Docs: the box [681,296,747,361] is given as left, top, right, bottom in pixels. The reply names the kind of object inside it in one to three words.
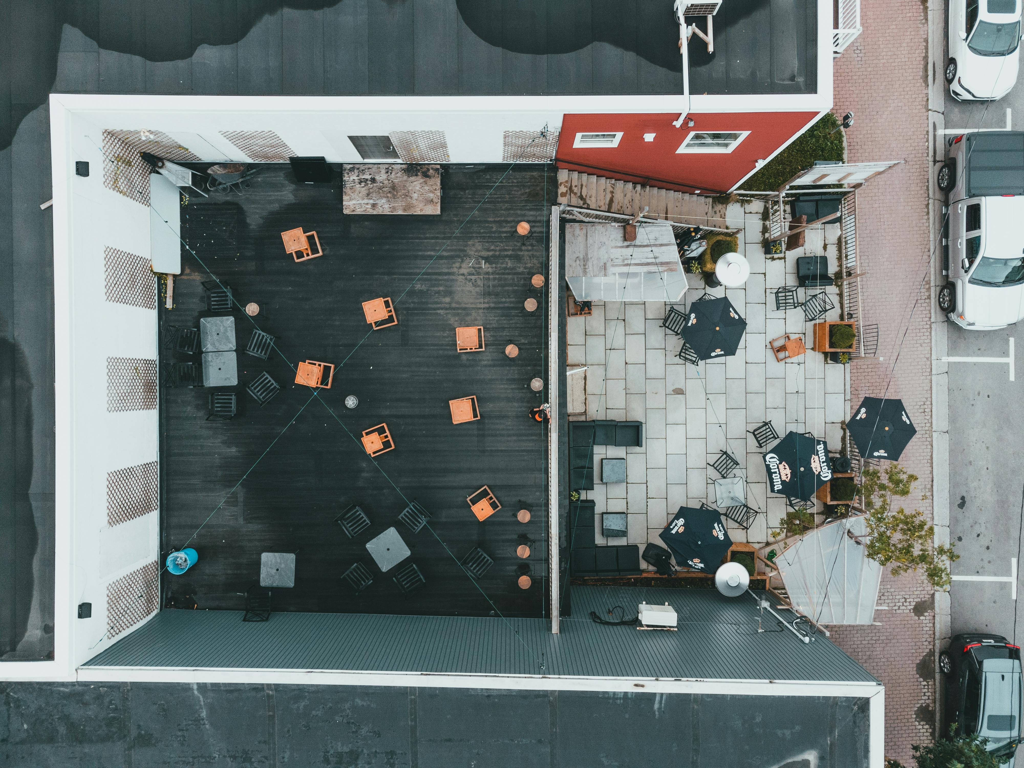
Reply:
umbrella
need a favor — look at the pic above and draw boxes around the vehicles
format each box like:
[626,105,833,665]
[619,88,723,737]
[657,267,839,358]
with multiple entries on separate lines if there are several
[938,0,1024,103]
[938,635,1024,768]
[936,130,1024,332]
